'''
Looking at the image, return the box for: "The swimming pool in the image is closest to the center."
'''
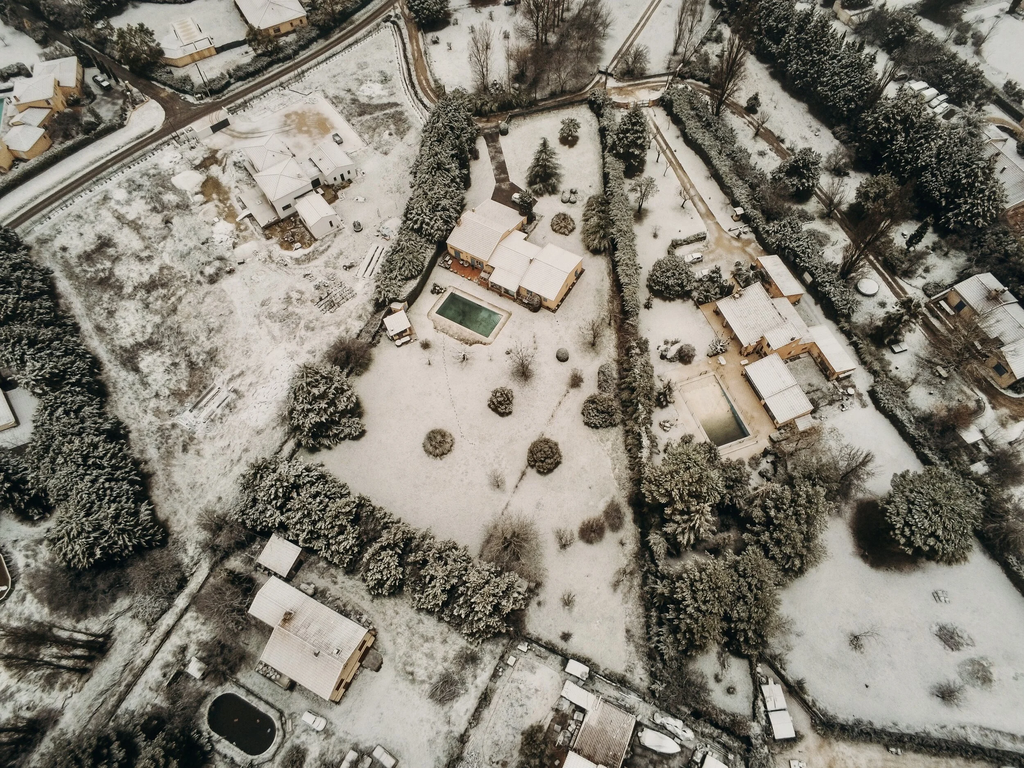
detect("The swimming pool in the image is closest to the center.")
[430,288,508,341]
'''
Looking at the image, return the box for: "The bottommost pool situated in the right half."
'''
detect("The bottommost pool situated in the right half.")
[675,369,756,450]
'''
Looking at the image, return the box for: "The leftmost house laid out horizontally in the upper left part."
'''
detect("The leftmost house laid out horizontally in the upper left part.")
[160,37,217,69]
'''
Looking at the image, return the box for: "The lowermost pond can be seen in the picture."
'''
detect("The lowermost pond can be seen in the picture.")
[206,690,276,760]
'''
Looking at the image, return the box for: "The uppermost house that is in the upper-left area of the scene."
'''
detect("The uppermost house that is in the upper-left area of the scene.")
[236,0,307,36]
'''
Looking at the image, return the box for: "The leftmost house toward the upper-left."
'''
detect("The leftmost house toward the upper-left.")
[0,56,86,175]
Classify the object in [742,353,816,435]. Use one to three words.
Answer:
building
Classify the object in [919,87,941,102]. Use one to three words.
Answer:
vehicle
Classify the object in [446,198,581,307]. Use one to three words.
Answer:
house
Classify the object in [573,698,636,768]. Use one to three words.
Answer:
barn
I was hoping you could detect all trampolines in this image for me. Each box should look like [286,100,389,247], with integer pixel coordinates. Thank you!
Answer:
[856,278,880,295]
